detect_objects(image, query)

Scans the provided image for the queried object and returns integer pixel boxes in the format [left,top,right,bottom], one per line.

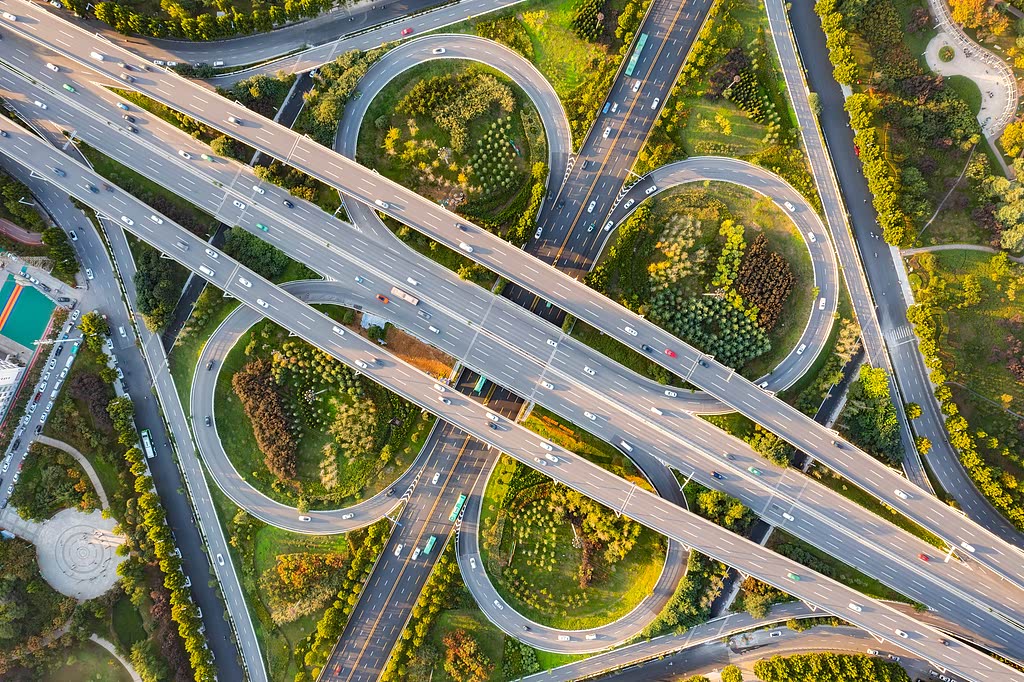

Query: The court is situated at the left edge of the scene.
[0,266,57,350]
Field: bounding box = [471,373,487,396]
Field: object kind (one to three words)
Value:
vehicle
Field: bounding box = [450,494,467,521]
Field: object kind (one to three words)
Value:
vehicle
